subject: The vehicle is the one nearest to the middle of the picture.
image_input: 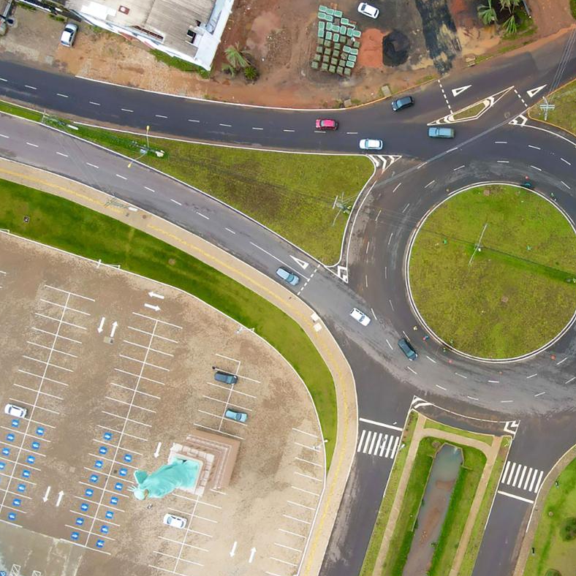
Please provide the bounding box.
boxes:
[274,267,298,284]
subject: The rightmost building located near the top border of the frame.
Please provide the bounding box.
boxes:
[66,0,241,74]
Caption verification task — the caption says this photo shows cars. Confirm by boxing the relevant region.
[2,405,26,418]
[356,1,380,18]
[274,267,298,284]
[58,21,75,47]
[397,337,416,360]
[347,308,370,325]
[359,138,381,149]
[212,371,236,384]
[163,516,185,528]
[428,126,453,138]
[390,95,413,110]
[314,118,336,129]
